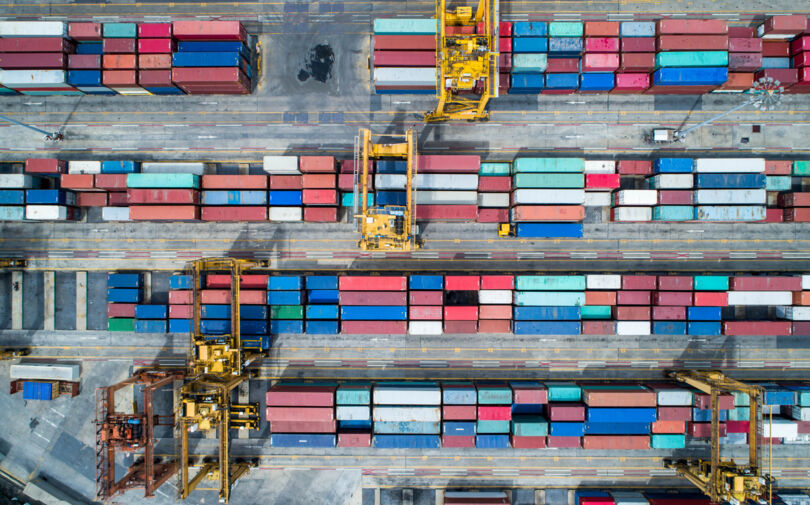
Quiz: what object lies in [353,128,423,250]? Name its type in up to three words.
container crane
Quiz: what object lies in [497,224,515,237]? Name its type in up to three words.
vehicle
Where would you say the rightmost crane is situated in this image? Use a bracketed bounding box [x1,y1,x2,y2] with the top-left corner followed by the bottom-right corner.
[659,373,774,505]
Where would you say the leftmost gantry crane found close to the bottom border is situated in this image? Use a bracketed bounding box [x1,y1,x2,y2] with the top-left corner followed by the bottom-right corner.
[98,370,200,499]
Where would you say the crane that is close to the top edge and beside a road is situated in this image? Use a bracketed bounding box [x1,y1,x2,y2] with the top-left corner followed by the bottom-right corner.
[423,0,499,120]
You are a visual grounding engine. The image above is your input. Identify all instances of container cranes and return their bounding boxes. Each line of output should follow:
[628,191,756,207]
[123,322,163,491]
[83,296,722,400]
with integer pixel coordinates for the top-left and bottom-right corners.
[423,0,499,120]
[187,259,273,377]
[98,370,200,499]
[353,128,423,250]
[659,373,774,505]
[175,370,263,502]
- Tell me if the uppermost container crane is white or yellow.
yellow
